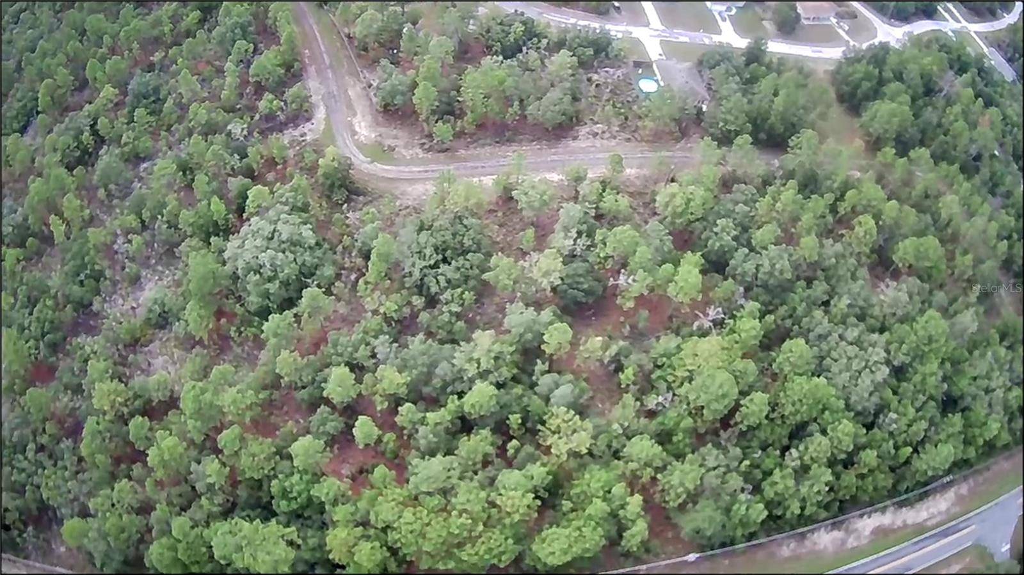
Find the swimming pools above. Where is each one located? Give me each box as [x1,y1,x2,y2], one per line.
[638,76,660,94]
